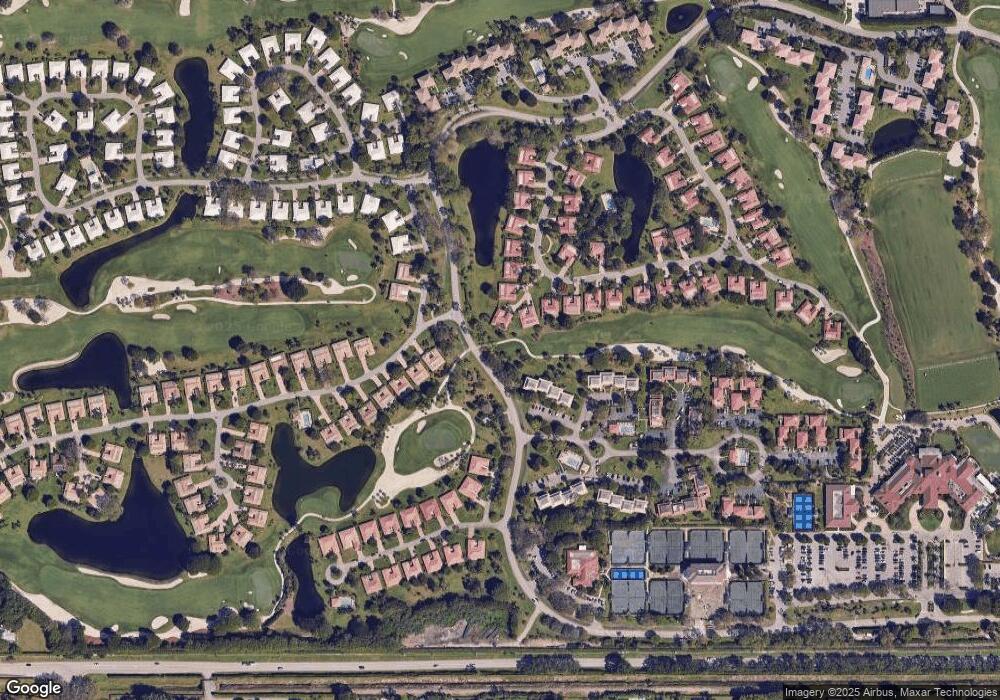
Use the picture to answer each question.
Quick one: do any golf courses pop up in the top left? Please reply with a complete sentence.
Yes, a golf course can be seen in the top left.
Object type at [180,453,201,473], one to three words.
house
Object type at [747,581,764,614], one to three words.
tennis court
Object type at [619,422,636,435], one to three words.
swimming pool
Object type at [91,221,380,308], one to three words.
golf course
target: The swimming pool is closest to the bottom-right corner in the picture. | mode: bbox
[736,447,749,466]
